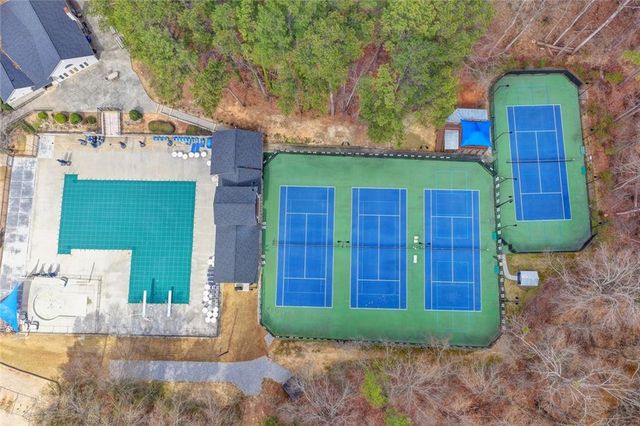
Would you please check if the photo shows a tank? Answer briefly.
No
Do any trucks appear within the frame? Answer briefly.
No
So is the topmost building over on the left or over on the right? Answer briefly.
left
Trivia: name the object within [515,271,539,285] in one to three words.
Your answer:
shed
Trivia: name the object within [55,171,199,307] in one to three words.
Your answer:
swimming pool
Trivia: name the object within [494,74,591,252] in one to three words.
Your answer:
tennis court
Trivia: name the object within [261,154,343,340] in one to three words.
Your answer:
tennis court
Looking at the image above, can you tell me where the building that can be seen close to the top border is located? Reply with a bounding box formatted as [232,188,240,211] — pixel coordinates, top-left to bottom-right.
[0,0,100,112]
